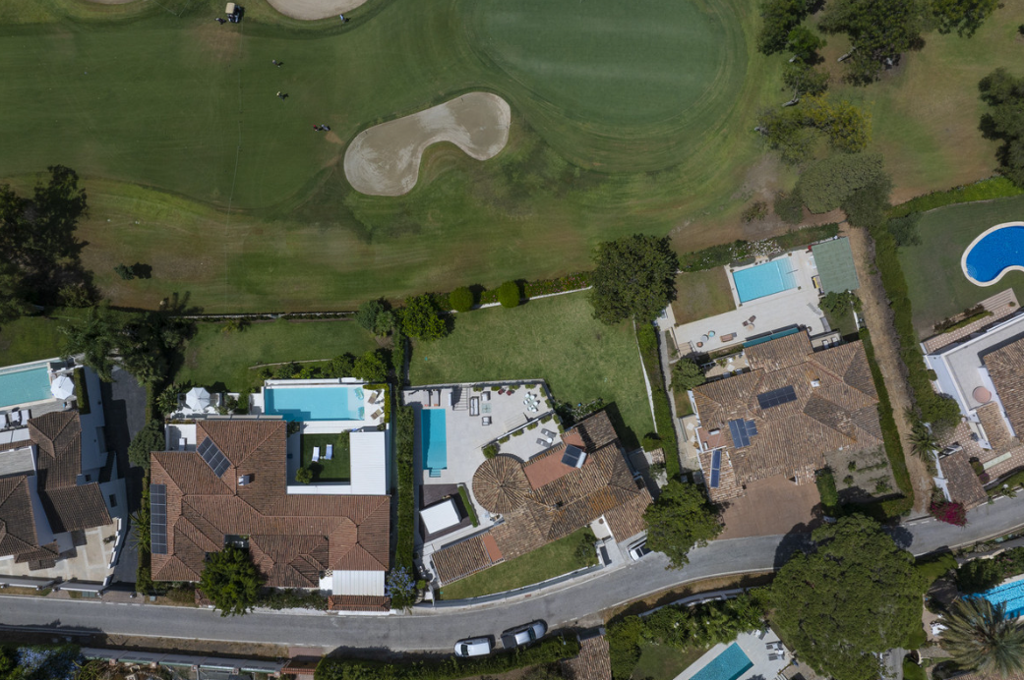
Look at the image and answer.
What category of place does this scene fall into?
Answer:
golf course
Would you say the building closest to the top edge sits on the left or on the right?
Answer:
right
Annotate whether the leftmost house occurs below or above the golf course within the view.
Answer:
below it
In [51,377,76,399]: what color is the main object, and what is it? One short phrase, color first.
white umbrella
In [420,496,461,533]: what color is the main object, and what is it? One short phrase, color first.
white gazebo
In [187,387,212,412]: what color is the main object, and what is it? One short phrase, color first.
white umbrella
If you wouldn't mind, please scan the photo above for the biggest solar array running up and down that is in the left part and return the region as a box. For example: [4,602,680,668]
[150,484,166,554]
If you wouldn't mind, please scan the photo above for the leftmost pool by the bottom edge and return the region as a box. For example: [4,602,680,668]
[673,645,752,680]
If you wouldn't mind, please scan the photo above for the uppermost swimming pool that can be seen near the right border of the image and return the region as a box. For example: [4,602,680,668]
[961,220,1024,287]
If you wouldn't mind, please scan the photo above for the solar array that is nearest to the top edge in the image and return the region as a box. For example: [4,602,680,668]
[757,385,798,410]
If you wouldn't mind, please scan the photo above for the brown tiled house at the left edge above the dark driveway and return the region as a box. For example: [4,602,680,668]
[0,412,126,571]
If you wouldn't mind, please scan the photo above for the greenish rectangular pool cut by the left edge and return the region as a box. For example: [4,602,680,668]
[0,362,58,411]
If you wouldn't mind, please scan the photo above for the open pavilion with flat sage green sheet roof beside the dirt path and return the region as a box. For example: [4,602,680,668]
[804,237,860,295]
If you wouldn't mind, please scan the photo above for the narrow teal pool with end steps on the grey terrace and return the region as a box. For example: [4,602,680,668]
[421,409,447,478]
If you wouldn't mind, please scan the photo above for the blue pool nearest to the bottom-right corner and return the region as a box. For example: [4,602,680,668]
[959,579,1024,628]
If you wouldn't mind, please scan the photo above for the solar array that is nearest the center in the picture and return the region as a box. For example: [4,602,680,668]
[561,444,582,468]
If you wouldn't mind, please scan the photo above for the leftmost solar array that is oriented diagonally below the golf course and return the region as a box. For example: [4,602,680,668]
[196,437,230,477]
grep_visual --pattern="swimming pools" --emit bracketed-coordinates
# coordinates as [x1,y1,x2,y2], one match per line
[732,257,797,302]
[959,579,1024,628]
[264,388,364,421]
[961,220,1024,287]
[0,362,58,411]
[673,645,752,680]
[421,409,447,478]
